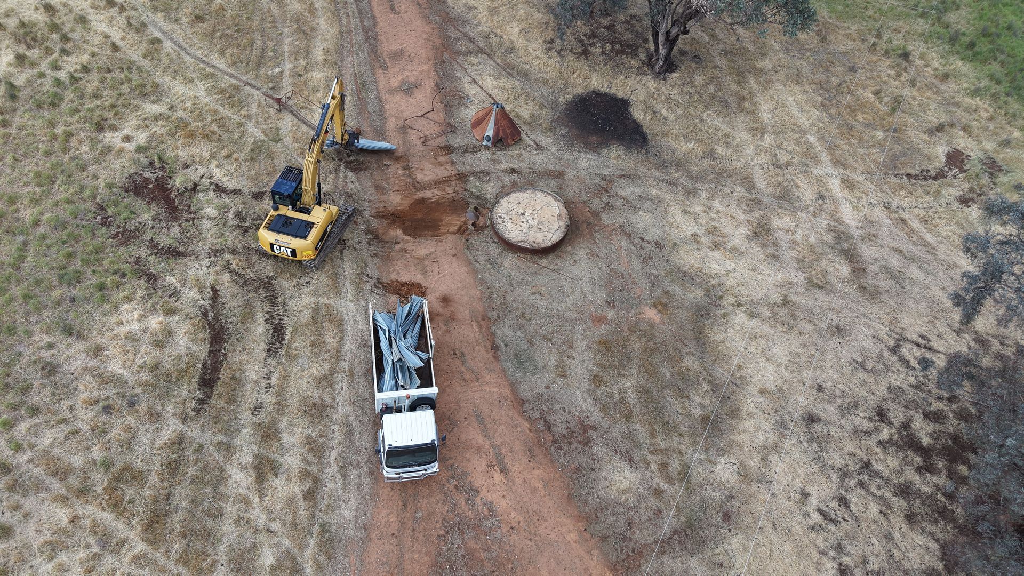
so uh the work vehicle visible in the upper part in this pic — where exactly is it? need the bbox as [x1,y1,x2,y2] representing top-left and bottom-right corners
[258,76,365,273]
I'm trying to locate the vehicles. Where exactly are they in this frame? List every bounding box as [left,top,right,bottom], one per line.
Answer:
[368,298,445,484]
[258,76,365,273]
